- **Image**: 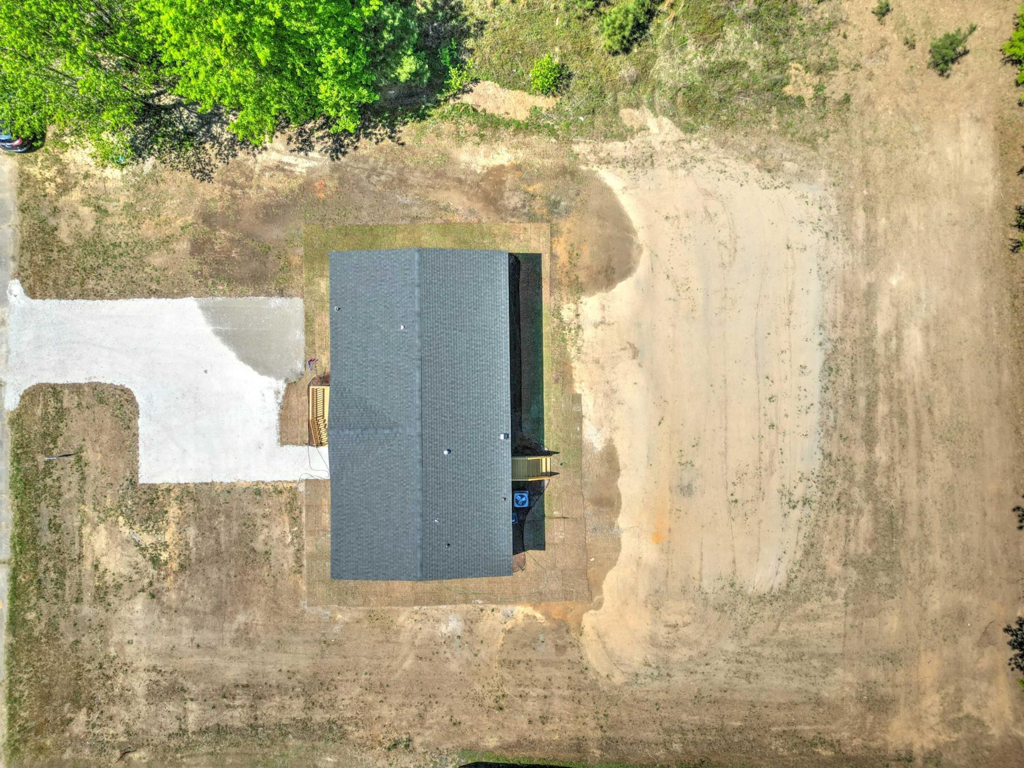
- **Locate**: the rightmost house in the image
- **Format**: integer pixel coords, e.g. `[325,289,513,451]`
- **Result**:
[326,248,512,583]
